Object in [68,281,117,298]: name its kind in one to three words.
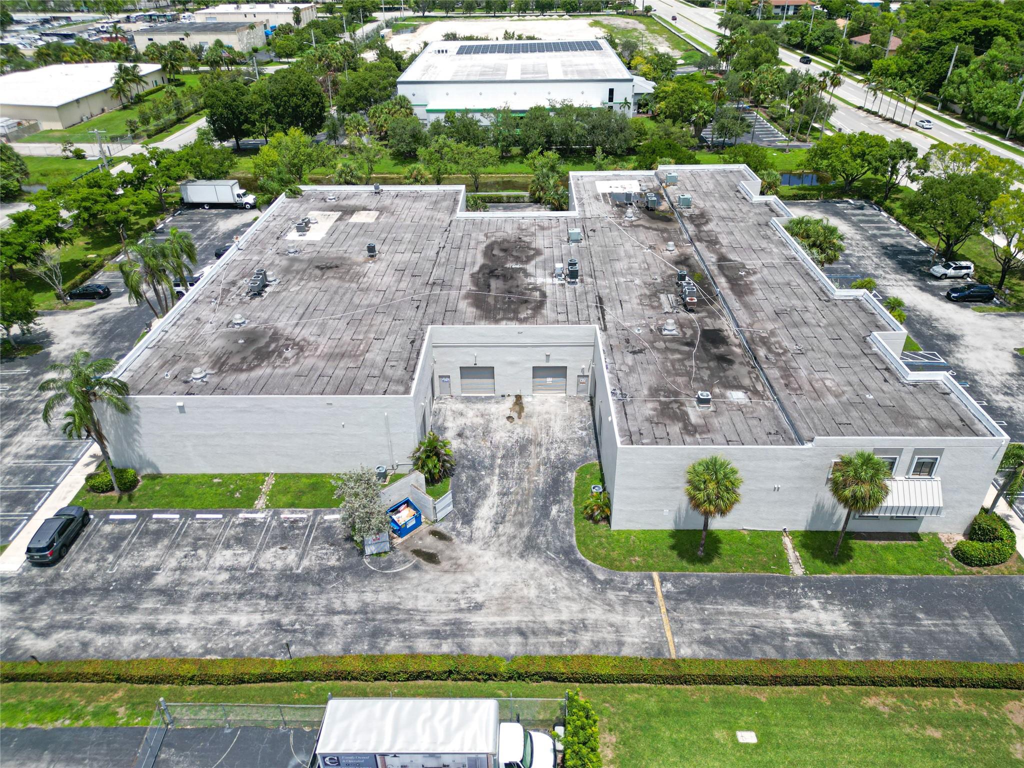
car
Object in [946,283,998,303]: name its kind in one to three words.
car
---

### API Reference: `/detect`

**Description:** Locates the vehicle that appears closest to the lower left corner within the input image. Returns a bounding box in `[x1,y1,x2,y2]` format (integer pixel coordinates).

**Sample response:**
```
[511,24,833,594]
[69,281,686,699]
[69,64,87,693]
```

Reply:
[32,503,101,559]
